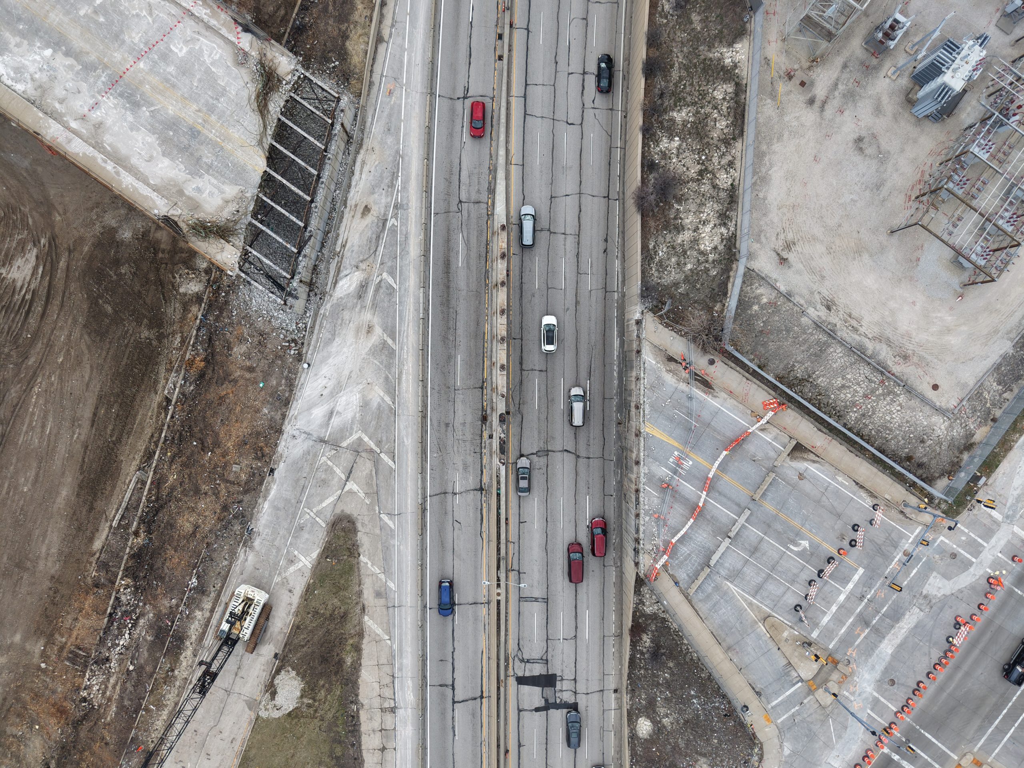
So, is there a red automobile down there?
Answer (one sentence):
Yes, this view includes a red automobile.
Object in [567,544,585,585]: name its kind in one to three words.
vehicle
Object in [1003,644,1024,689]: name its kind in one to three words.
truck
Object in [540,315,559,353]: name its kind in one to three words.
car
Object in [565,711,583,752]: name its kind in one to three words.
car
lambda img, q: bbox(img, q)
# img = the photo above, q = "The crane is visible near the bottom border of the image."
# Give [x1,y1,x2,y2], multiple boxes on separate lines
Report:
[131,583,281,768]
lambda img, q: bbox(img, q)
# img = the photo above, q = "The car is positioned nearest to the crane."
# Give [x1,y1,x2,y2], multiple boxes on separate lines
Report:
[436,580,453,617]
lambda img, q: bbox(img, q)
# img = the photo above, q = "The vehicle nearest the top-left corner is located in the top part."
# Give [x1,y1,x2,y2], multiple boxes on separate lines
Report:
[468,98,486,137]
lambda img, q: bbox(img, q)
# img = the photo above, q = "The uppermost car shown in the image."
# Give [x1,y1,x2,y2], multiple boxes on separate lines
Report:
[596,51,615,93]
